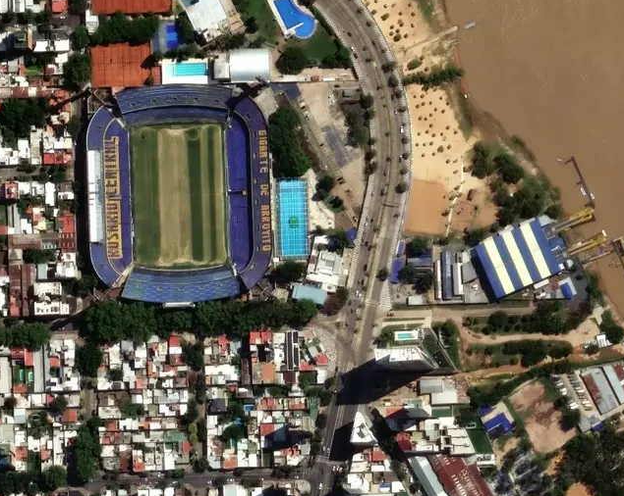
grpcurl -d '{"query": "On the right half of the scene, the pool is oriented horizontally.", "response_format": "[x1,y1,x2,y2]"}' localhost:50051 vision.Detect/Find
[395,330,419,343]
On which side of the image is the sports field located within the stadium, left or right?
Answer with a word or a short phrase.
left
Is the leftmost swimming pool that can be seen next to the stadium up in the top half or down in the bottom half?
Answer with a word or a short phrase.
top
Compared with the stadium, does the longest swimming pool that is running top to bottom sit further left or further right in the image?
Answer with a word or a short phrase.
right of it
